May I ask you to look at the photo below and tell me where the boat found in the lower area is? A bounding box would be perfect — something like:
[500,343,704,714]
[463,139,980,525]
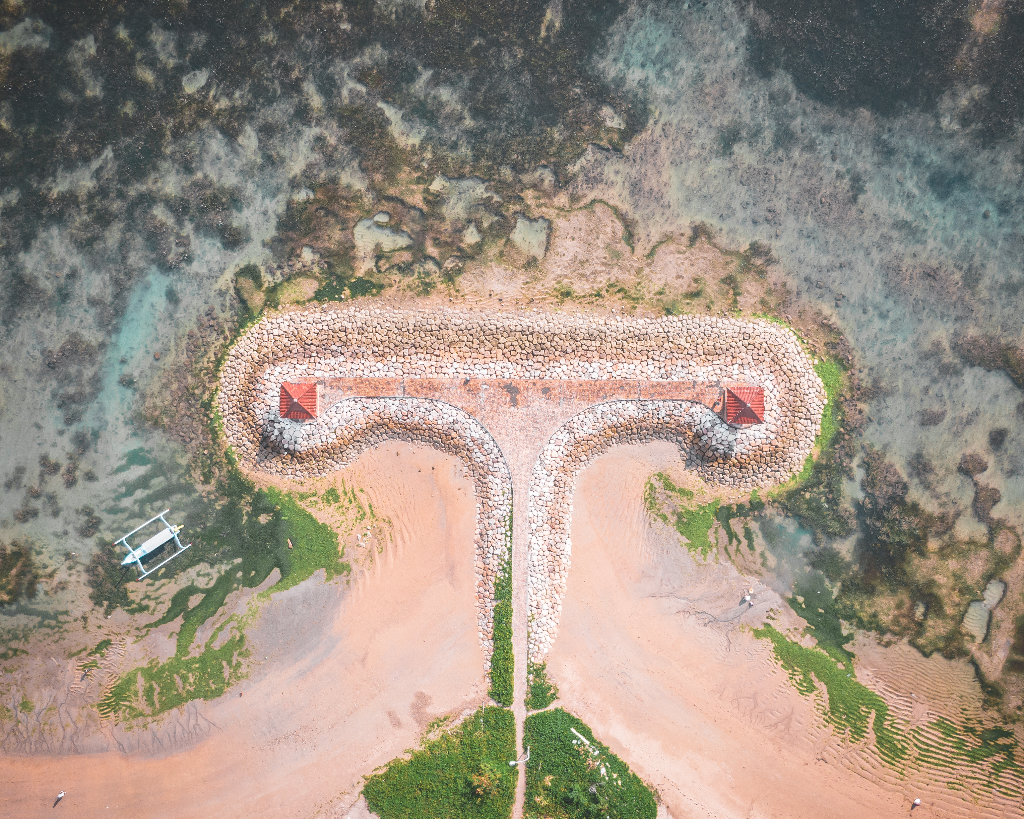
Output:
[112,508,193,582]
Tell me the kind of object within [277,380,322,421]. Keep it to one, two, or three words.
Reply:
gazebo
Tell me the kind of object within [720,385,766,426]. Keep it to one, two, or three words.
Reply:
gazebo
